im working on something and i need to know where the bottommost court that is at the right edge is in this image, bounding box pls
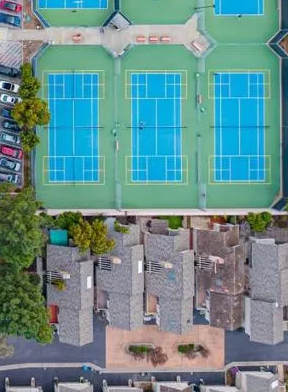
[198,45,281,210]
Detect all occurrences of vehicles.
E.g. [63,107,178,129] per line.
[0,93,21,104]
[0,0,22,12]
[0,119,23,131]
[0,158,21,170]
[0,13,20,25]
[0,106,20,118]
[0,132,20,144]
[0,65,19,77]
[0,170,19,183]
[0,81,20,93]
